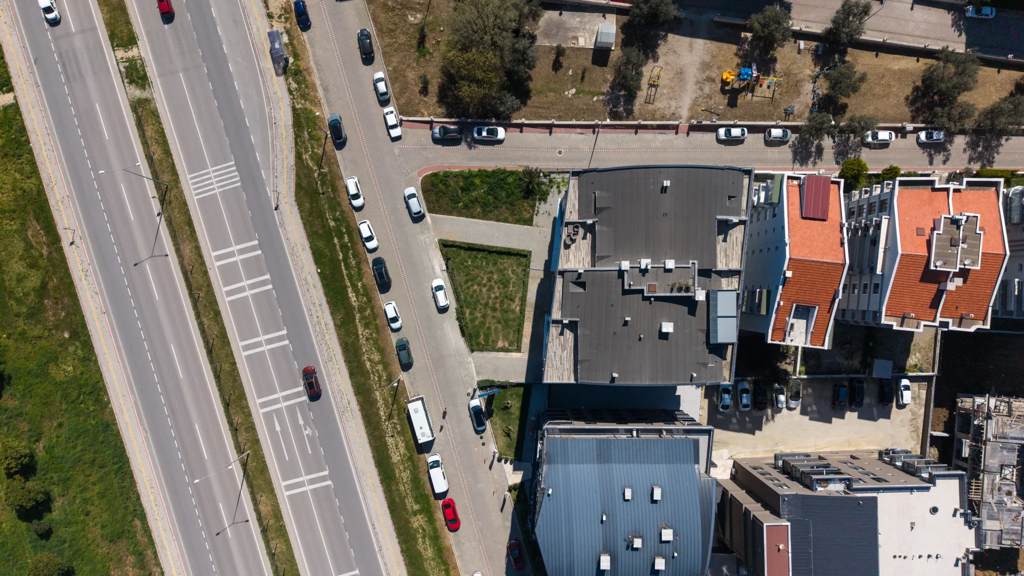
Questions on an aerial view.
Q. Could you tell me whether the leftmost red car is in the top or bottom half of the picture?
top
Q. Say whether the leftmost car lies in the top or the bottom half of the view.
top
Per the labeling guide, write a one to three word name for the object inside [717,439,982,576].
building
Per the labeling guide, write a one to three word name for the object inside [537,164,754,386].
building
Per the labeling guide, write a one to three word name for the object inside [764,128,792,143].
car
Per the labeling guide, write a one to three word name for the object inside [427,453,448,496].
vehicle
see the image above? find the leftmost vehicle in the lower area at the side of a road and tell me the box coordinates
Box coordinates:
[302,365,322,399]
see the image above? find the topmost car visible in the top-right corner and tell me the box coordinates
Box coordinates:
[963,3,997,20]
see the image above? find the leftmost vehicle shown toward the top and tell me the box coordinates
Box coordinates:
[38,0,61,25]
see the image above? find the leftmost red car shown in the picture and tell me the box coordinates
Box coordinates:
[157,0,177,21]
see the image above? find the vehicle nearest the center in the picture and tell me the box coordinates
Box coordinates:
[431,278,449,310]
